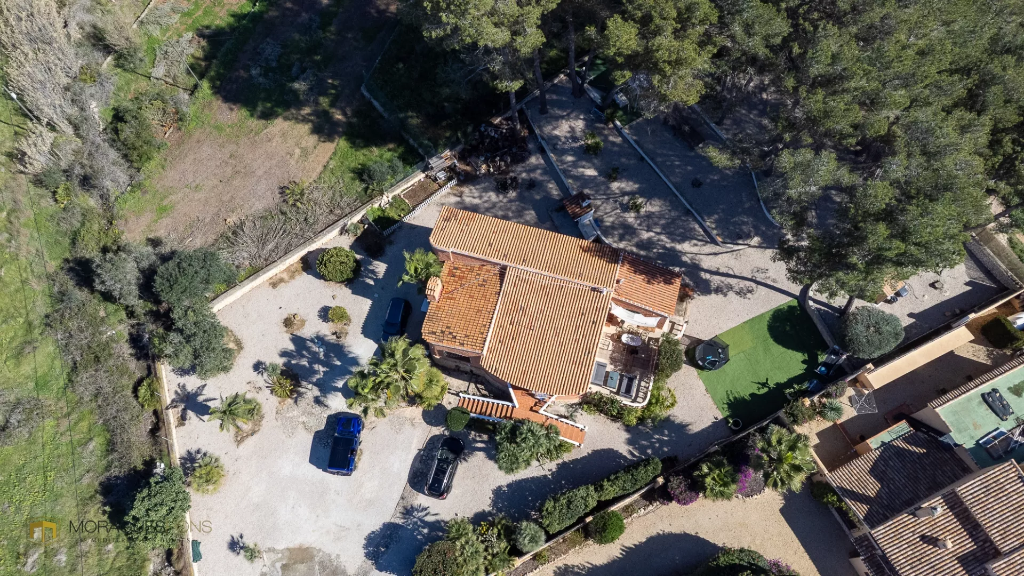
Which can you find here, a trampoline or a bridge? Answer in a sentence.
Visible in the photo is a trampoline.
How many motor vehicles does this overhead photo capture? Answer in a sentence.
Altogether the scene contains 3 motor vehicles.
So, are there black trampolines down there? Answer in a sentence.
Yes, this view includes a black trampoline.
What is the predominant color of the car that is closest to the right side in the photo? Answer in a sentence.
From above, the car that is closest to the right side appears black.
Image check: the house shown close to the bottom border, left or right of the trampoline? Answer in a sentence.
The house shown close to the bottom border is to the right of the trampoline.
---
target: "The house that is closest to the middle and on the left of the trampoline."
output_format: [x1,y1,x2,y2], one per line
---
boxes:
[421,207,683,411]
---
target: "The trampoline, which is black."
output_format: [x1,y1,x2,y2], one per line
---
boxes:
[687,333,733,379]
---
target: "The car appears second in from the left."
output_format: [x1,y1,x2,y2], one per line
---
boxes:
[378,291,414,348]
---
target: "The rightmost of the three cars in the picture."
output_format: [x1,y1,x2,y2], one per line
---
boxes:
[423,436,465,506]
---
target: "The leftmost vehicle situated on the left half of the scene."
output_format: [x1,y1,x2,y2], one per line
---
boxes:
[321,417,358,478]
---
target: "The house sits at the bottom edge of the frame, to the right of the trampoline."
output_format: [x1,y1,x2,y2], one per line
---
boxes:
[816,353,1024,576]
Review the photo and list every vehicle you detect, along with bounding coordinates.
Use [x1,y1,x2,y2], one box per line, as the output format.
[321,417,358,478]
[378,291,414,348]
[423,436,465,506]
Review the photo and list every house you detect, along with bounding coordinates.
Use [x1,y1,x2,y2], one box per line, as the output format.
[816,353,1024,576]
[421,207,683,411]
